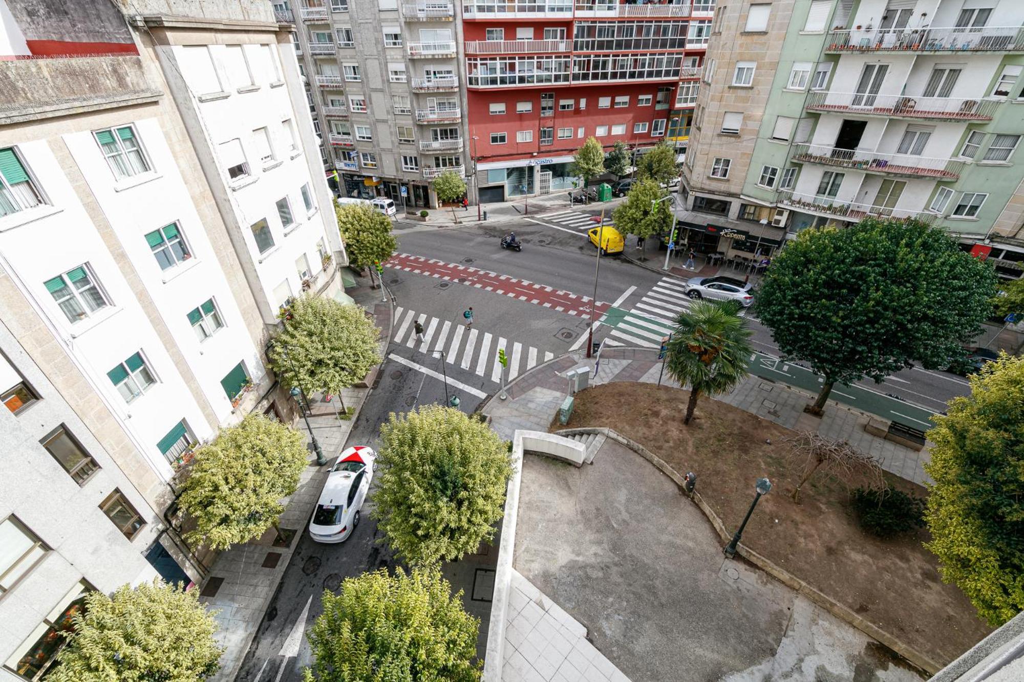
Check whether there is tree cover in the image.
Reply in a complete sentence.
Yes, there's tree cover in this view.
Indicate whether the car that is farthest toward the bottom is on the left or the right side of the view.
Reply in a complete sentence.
The car that is farthest toward the bottom appears in the left half of the scene.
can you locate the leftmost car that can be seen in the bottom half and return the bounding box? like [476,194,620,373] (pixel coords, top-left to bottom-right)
[305,446,374,535]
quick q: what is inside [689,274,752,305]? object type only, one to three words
car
